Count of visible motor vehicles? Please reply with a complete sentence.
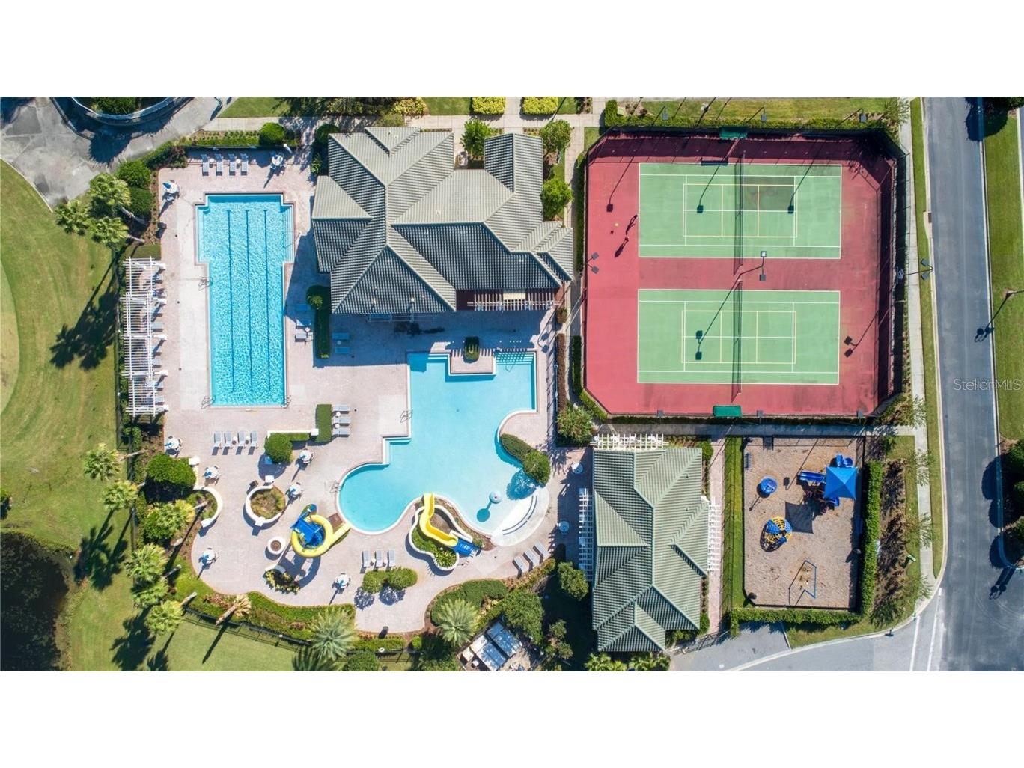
The photo contains no motor vehicles.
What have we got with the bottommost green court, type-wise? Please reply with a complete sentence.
From above, the bottommost green court can be identified as a tennis court.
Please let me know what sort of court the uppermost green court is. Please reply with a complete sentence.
The uppermost green court can be classified as a tennis court.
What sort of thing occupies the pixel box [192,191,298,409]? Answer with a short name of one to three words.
swimming pool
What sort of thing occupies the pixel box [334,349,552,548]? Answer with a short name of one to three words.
swimming pool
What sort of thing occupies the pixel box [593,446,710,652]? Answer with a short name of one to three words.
building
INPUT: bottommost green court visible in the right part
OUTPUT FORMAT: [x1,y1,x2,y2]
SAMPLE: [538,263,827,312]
[637,289,840,385]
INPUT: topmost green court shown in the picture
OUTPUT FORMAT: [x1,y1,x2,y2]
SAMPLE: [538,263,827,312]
[639,163,842,259]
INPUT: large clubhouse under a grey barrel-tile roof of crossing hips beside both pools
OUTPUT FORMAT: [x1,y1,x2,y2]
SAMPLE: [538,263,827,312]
[312,124,573,313]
